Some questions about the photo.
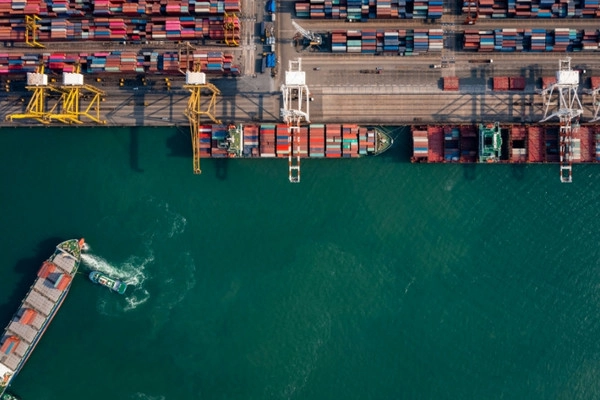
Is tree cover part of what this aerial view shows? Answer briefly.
No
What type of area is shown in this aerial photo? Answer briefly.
port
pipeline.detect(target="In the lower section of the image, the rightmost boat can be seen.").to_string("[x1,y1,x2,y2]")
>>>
[90,271,128,295]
